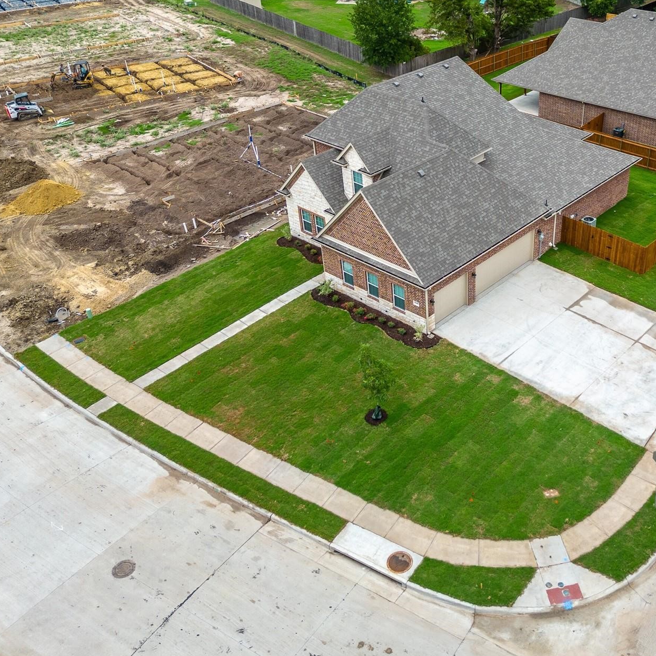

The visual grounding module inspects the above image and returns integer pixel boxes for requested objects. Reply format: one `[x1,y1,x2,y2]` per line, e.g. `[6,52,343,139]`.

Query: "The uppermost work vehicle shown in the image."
[46,58,94,90]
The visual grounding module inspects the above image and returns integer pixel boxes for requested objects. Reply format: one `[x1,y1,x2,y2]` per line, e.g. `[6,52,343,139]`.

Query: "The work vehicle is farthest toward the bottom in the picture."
[3,90,53,119]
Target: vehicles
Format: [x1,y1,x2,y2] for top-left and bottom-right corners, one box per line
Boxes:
[46,58,94,90]
[3,90,53,119]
